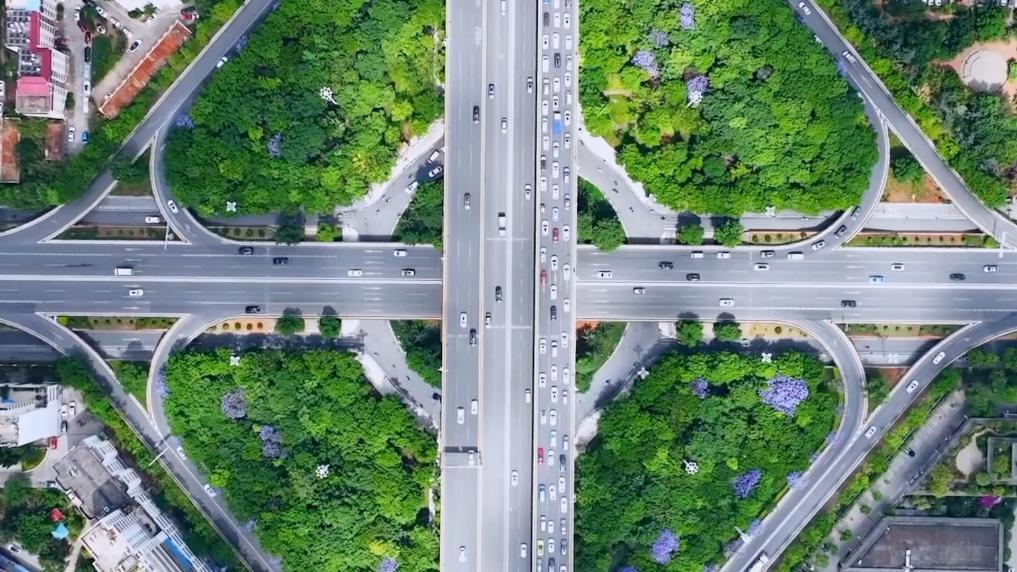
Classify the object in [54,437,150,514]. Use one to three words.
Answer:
building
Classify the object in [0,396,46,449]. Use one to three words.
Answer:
building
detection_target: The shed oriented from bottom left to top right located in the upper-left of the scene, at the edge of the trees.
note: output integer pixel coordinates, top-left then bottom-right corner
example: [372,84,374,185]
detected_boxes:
[97,20,193,118]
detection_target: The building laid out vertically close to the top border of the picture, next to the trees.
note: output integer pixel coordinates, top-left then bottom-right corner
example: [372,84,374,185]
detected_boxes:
[4,0,67,118]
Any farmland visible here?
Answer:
No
